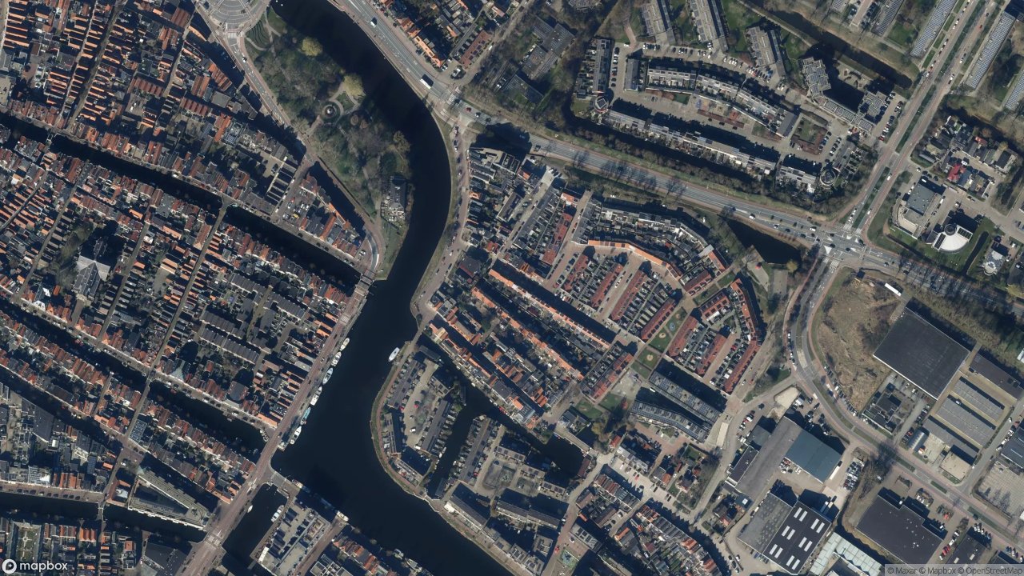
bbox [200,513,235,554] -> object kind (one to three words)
bridge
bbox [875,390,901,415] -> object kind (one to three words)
house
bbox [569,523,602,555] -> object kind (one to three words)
building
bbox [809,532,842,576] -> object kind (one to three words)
greenhouse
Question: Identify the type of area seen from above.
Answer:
residential area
